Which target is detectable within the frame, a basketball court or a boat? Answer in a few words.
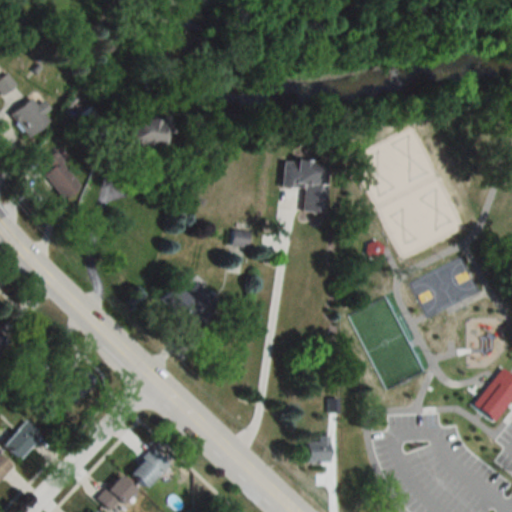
basketball court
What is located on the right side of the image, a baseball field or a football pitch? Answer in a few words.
football pitch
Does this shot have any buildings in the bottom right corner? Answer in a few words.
Yes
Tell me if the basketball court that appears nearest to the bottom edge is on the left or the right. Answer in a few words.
right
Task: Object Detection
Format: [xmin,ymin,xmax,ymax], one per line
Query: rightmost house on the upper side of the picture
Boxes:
[285,158,326,211]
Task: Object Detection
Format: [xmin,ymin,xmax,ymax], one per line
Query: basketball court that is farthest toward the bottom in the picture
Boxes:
[410,258,480,318]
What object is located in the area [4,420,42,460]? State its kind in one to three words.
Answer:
house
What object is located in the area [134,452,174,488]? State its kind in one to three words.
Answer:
house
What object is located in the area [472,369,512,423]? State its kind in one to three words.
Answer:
building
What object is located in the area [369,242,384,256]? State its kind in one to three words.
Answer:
gazebo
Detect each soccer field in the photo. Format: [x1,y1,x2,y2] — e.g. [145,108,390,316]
[349,296,424,390]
